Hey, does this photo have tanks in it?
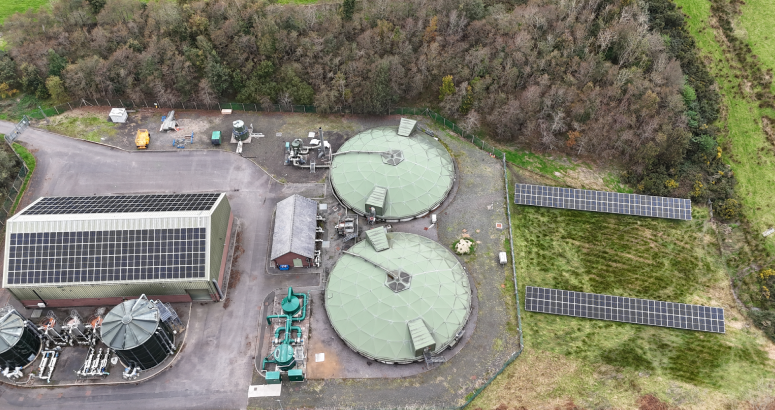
Yes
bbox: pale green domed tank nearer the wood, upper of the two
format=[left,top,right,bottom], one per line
[328,119,455,224]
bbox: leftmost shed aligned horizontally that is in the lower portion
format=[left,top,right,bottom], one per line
[2,191,232,308]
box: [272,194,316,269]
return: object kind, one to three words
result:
shed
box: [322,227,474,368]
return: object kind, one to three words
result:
storage tank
